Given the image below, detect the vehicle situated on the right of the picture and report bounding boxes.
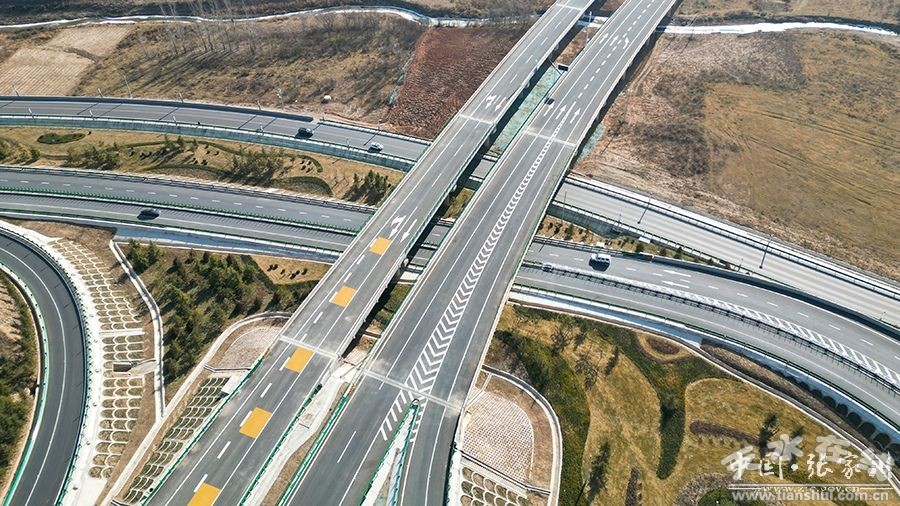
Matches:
[589,253,613,266]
